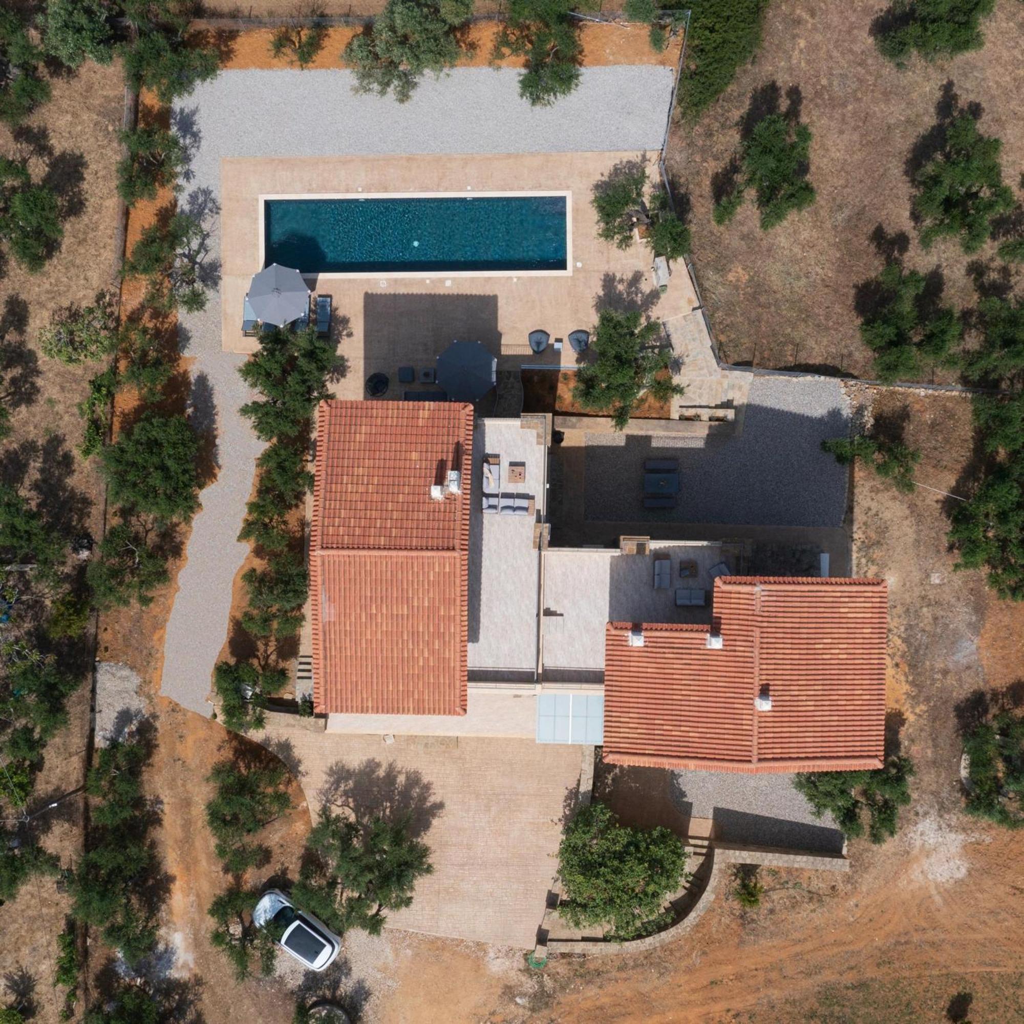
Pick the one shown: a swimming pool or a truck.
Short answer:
swimming pool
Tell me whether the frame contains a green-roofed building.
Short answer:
No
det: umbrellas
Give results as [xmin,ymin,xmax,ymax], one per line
[247,264,311,328]
[436,340,497,401]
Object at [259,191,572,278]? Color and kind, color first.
blue swimming pool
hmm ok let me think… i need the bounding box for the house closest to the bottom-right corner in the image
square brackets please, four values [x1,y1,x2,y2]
[535,537,894,775]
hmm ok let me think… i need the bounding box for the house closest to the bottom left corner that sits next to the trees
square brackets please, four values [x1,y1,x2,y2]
[307,398,552,720]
